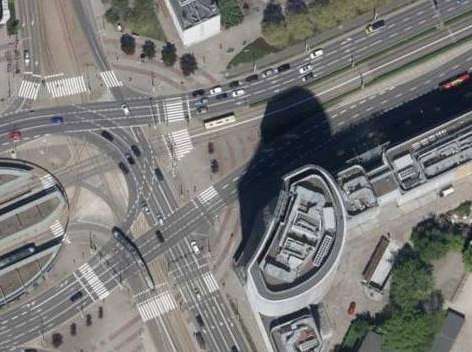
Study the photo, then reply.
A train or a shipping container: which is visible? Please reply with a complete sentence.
There is a train in the scene.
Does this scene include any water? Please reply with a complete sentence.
No, no water is visible.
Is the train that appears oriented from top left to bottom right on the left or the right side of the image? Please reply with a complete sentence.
The train that appears oriented from top left to bottom right sits on the left side.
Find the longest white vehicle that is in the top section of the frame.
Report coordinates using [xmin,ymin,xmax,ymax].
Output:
[205,117,236,131]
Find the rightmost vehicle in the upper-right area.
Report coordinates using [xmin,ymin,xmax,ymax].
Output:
[441,76,470,94]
